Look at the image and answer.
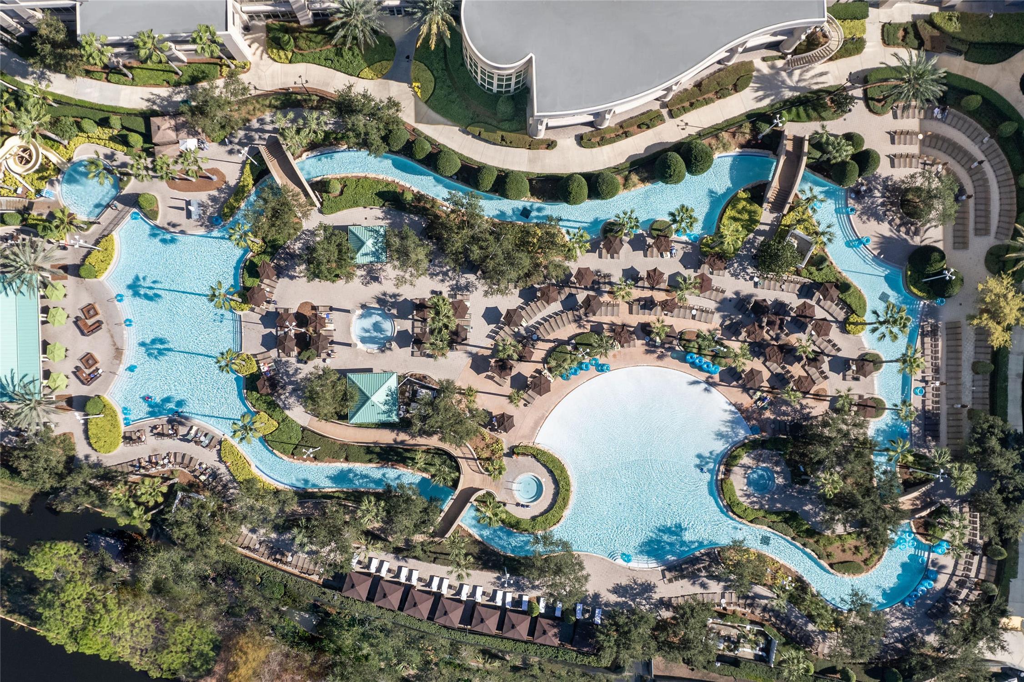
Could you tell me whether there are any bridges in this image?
Yes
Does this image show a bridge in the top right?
Yes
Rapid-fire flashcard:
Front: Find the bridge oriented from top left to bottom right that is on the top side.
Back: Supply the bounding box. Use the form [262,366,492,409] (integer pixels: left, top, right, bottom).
[258,133,321,216]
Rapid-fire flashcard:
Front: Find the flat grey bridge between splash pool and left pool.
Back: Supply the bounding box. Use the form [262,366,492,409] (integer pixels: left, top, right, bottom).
[93,191,138,237]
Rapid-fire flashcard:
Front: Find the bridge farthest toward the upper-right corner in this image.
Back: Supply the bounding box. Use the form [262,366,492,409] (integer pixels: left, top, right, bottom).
[764,129,810,212]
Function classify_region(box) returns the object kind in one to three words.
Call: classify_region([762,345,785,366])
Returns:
umbrella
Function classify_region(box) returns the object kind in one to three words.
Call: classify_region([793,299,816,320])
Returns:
umbrella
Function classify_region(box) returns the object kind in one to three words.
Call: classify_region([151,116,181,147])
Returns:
tent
